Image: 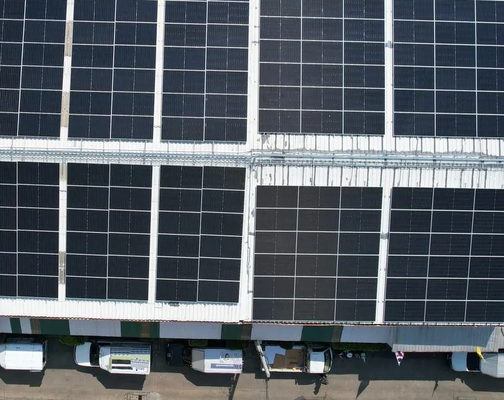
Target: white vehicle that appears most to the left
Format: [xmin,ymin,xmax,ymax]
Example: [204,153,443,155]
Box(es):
[0,333,50,370]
